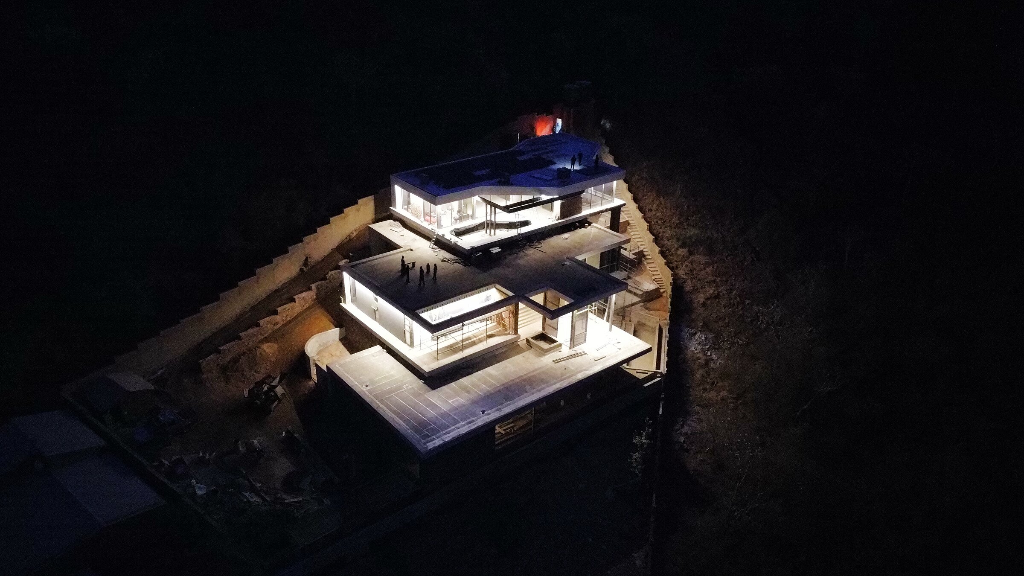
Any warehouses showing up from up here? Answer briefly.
No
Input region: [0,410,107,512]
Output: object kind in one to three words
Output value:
house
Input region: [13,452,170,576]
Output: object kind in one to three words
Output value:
house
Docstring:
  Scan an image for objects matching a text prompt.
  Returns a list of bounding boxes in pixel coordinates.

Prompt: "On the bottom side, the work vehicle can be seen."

[238,369,306,412]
